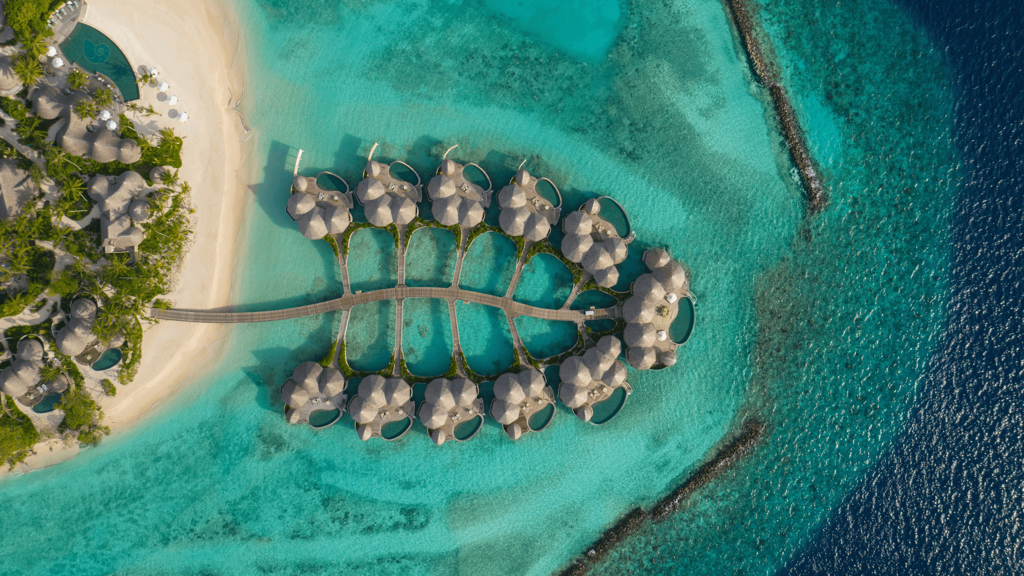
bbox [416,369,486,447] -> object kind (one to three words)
house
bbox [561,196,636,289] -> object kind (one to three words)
house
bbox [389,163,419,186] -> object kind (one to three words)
swimming pool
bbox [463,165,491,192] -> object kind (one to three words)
swimming pool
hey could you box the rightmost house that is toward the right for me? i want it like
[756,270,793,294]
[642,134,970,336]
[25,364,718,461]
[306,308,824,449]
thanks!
[615,247,697,372]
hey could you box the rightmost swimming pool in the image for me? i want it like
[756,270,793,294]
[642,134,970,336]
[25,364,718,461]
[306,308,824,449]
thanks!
[669,297,693,344]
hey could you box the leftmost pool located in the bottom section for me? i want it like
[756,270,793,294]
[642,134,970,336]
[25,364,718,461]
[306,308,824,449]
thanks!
[35,393,62,412]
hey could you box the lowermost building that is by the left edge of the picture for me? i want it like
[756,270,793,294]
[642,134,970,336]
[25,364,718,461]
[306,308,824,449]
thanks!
[0,334,77,418]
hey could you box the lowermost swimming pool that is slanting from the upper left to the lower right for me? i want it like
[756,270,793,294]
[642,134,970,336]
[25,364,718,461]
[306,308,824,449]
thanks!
[597,198,629,238]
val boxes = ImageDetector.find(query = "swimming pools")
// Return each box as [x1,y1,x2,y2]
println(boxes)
[597,198,629,238]
[94,349,120,369]
[528,403,554,431]
[389,163,419,186]
[381,416,412,440]
[535,180,560,209]
[310,408,342,428]
[669,297,693,344]
[454,414,483,441]
[35,393,62,412]
[316,174,348,195]
[463,165,491,192]
[58,19,143,104]
[590,386,625,425]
